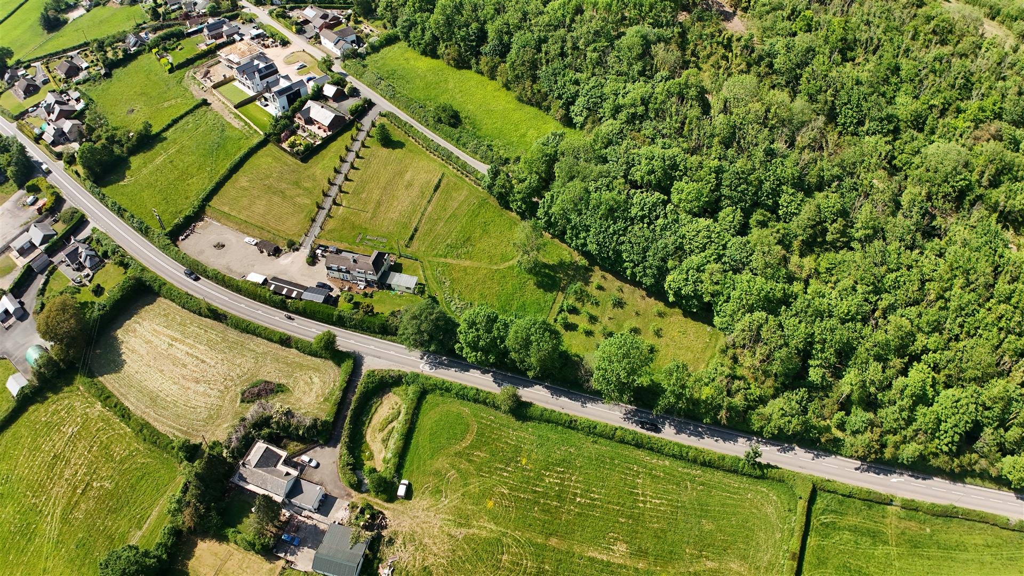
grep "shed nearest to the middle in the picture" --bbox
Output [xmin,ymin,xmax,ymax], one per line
[390,271,419,294]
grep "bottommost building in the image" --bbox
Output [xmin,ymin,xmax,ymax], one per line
[311,524,371,576]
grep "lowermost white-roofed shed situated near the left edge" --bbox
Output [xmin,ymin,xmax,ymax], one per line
[5,373,28,400]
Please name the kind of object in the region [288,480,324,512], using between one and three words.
building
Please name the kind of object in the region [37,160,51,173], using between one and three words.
vehicle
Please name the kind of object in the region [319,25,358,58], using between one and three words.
house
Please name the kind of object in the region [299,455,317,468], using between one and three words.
vehicle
